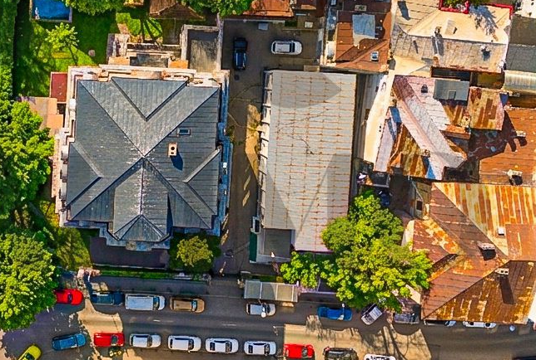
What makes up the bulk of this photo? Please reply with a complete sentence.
The bulk of the photo consists of buildings.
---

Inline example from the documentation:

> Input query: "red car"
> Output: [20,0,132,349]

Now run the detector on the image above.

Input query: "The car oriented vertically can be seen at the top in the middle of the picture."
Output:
[232,35,249,71]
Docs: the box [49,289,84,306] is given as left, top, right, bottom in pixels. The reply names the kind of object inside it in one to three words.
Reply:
car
